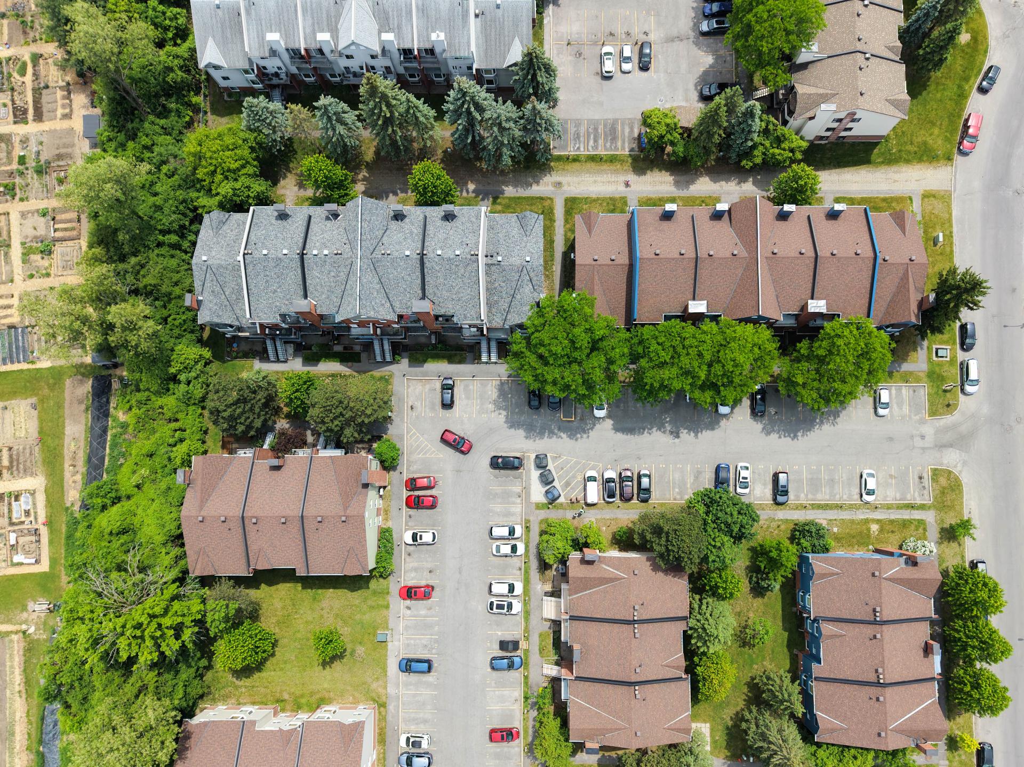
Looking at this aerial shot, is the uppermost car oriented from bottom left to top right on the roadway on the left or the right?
right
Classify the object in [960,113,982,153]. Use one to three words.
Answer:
truck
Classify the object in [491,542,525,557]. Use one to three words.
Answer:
car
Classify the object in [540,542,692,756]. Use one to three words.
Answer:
building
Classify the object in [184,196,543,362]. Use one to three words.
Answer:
house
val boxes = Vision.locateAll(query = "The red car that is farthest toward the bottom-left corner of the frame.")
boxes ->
[400,585,432,601]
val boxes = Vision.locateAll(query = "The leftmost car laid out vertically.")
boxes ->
[440,377,455,409]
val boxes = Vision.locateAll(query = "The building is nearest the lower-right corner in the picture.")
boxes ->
[795,542,948,758]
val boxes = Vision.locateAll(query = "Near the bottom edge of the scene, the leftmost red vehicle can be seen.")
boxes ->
[488,727,518,744]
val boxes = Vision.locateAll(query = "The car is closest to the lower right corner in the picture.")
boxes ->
[976,736,996,767]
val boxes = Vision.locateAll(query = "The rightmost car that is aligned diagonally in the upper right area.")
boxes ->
[976,63,1003,94]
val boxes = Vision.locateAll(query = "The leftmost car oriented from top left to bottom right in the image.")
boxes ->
[439,428,473,454]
